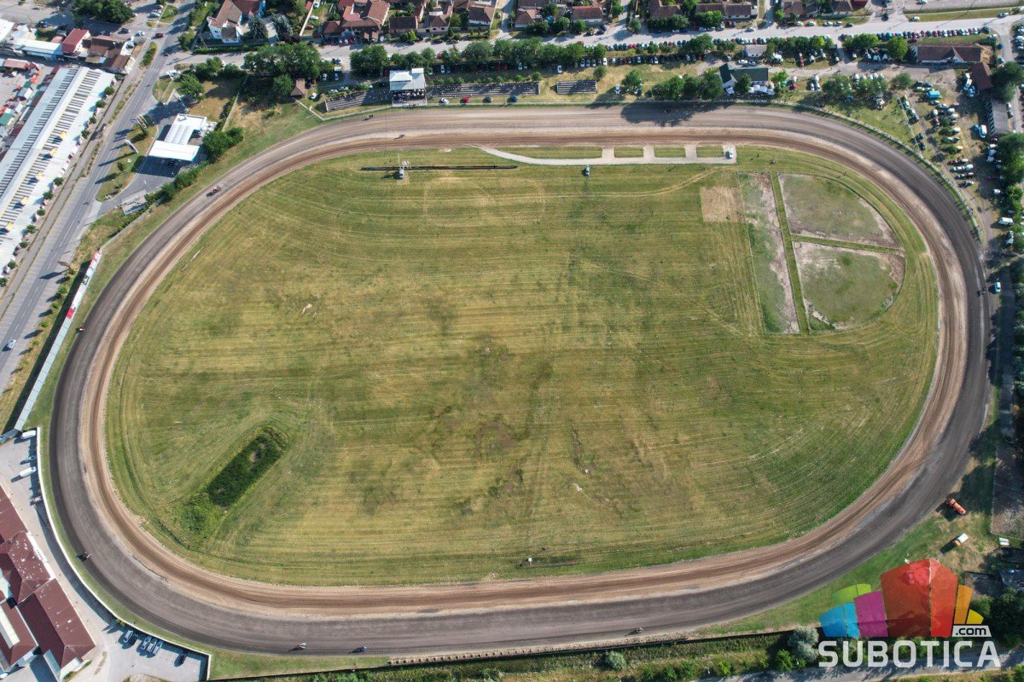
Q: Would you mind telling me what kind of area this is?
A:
sports ground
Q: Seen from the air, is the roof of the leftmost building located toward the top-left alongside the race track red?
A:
No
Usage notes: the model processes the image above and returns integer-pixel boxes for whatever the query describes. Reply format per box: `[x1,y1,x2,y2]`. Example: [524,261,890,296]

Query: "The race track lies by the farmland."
[49,105,990,658]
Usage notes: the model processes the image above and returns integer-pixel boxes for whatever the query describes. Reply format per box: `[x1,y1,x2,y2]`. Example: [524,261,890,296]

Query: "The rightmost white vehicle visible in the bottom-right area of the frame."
[951,532,971,548]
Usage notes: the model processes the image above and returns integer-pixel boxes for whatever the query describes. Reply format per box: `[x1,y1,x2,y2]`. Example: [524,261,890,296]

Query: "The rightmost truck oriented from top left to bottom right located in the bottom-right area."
[943,495,970,517]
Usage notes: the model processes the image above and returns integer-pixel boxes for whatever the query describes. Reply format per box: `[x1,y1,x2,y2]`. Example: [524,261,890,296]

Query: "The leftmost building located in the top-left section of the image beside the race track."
[0,67,118,292]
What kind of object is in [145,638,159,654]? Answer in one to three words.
car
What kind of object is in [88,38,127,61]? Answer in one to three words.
house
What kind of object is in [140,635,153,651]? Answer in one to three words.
vehicle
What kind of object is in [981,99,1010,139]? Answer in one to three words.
building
